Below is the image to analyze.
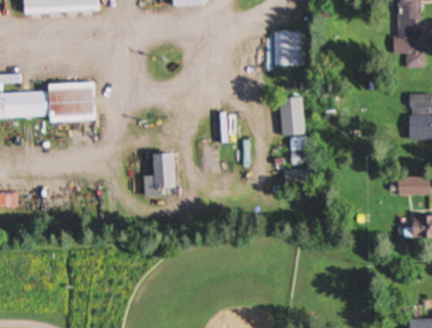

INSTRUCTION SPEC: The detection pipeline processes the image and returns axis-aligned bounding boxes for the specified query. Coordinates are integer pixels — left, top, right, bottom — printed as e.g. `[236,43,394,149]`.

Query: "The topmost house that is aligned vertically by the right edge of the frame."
[393,0,426,68]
